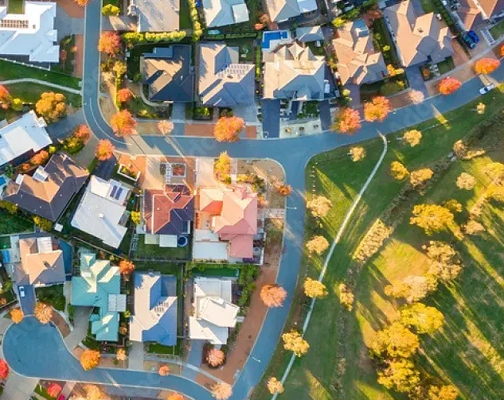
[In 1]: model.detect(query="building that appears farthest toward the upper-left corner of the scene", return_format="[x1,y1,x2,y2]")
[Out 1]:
[0,1,59,62]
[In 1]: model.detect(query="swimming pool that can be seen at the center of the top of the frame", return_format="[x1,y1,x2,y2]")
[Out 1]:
[261,30,292,51]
